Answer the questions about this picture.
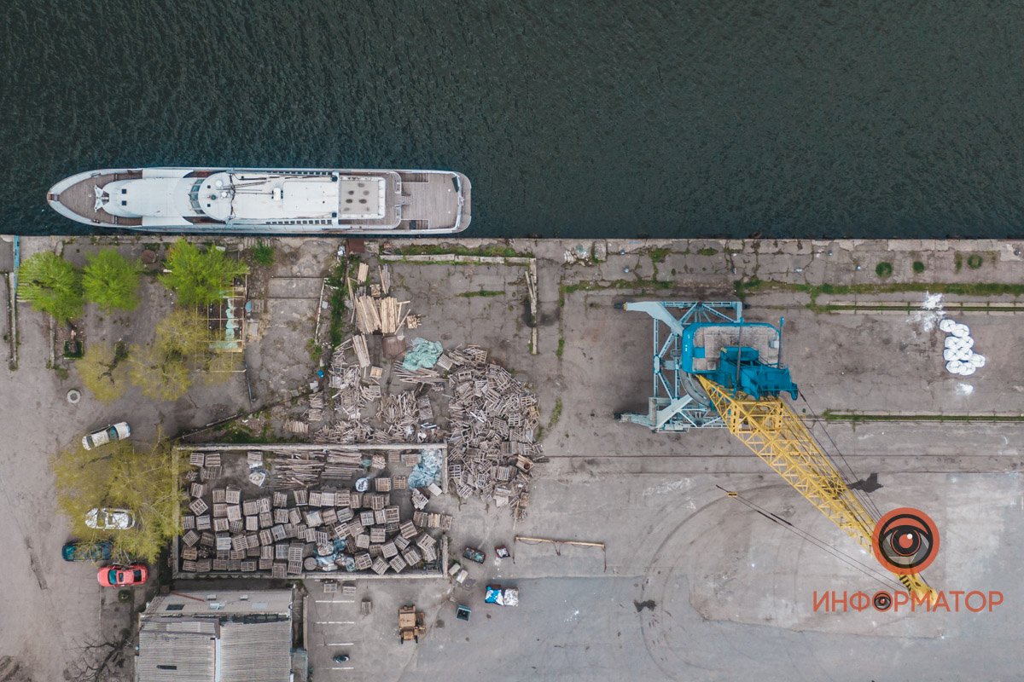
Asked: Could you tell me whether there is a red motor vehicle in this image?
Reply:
Yes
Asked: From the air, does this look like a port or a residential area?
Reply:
port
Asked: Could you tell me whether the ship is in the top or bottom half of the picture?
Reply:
top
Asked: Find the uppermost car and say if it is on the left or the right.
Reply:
left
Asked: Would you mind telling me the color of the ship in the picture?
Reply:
white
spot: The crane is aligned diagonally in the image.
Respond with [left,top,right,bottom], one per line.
[614,296,939,610]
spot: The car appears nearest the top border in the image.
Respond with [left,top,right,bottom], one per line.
[80,421,134,450]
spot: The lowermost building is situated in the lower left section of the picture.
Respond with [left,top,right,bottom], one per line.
[135,579,301,682]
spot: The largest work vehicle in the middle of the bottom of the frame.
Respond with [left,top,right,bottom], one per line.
[399,603,426,644]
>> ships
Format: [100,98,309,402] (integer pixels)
[47,166,472,236]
